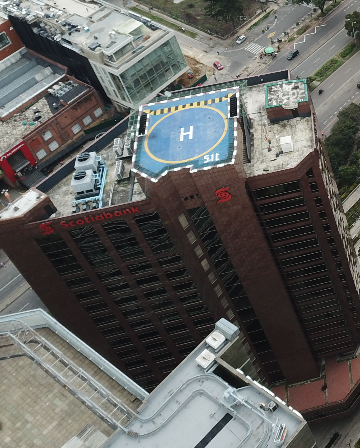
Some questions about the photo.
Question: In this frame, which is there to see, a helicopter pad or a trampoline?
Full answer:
The image shows a helicopter pad.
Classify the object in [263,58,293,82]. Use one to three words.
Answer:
bus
